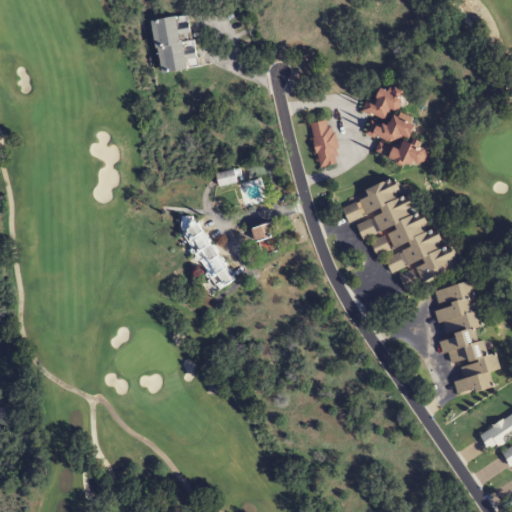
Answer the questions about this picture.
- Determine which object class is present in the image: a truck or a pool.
pool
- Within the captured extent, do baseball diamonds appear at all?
No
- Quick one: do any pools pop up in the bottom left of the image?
No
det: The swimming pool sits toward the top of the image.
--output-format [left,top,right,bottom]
[241,178,266,206]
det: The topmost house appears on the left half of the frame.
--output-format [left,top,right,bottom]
[151,16,198,74]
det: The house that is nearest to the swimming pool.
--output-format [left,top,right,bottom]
[216,168,243,186]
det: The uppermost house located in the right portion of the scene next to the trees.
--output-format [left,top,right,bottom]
[362,86,408,119]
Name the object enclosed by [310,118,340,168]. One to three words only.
house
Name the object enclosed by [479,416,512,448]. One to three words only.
house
